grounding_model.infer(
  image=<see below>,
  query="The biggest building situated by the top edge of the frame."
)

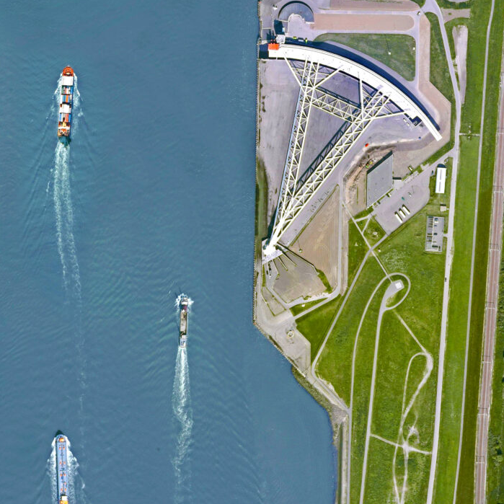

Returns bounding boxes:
[279,1,314,34]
